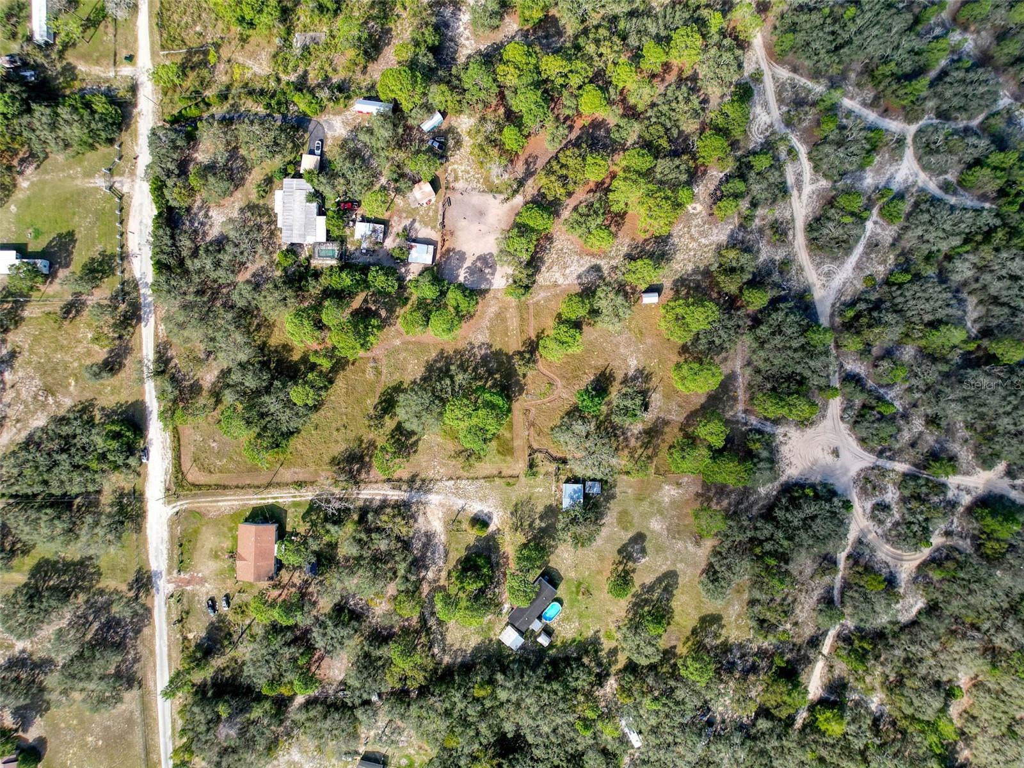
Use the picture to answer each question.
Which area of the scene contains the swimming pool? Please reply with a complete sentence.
The swimming pool appears toward the bottom of the photo.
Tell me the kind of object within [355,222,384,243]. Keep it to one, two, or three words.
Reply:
shed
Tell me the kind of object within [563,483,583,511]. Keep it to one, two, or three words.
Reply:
barn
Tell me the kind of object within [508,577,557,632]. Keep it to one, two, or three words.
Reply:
house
